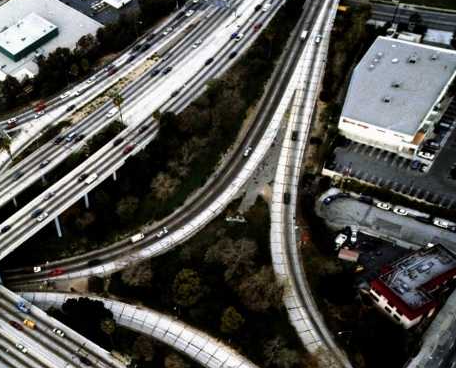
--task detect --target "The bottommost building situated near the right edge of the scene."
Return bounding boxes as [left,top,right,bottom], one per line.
[367,250,455,318]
